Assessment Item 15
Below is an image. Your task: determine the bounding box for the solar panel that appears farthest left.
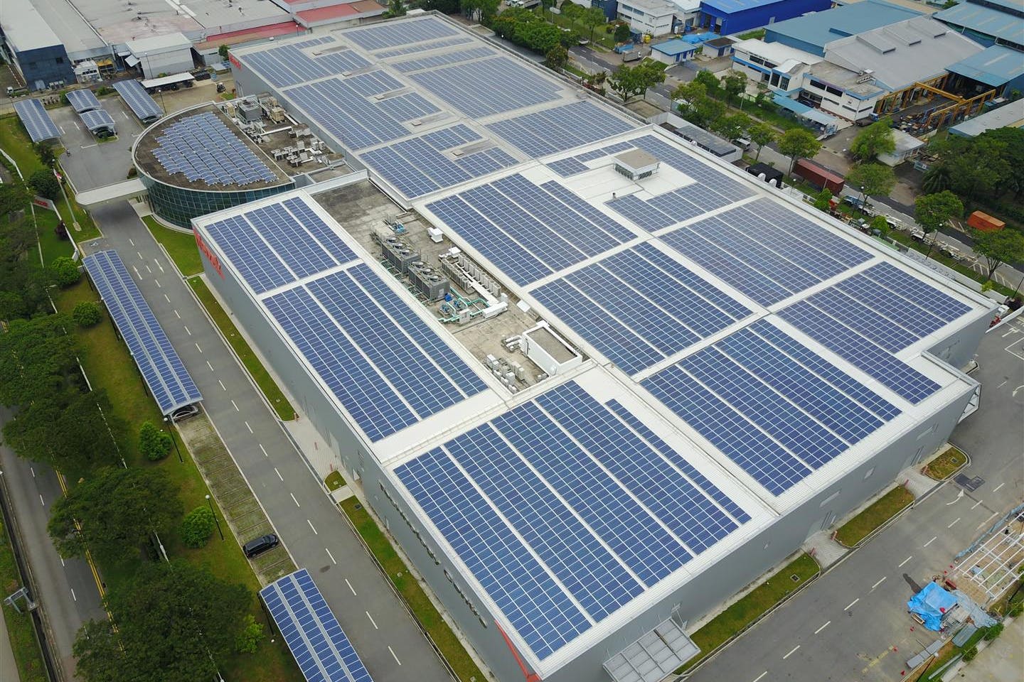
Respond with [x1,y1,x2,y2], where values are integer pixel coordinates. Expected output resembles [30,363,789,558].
[14,100,59,142]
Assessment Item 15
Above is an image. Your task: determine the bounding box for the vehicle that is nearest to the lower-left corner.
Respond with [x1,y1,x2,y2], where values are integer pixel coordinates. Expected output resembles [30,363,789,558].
[243,533,280,557]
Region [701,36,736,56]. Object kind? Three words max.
shed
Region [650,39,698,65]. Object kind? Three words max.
building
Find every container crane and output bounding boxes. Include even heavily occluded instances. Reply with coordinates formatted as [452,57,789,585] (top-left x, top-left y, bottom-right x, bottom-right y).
[871,73,996,134]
